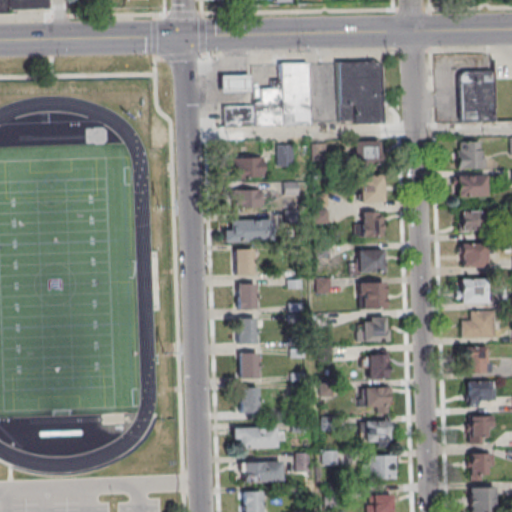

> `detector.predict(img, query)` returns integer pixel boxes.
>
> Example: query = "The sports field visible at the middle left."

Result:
[0,144,140,418]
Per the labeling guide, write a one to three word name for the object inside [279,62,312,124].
building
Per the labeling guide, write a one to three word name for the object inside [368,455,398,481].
house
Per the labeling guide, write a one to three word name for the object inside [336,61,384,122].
building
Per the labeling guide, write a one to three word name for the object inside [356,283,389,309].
house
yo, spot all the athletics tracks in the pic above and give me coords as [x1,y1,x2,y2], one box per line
[0,96,160,477]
